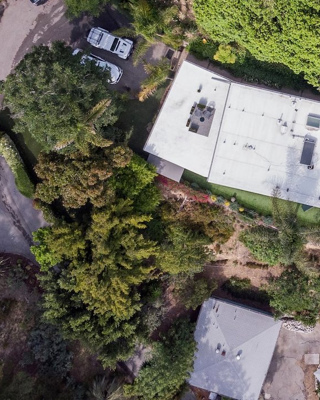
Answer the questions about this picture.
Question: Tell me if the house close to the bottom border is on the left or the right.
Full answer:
The house close to the bottom border sits on the right side.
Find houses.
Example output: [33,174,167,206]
[188,295,284,400]
[143,61,320,207]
